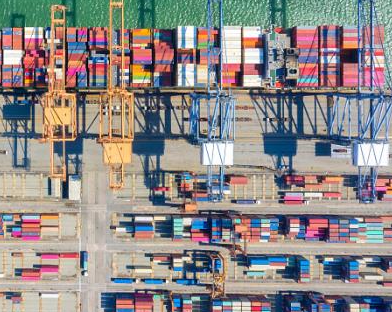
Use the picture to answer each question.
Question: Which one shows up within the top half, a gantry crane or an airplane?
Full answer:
The one visible within the top half is a gantry crane.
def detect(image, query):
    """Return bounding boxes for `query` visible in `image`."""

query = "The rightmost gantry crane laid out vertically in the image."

[302,0,392,203]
